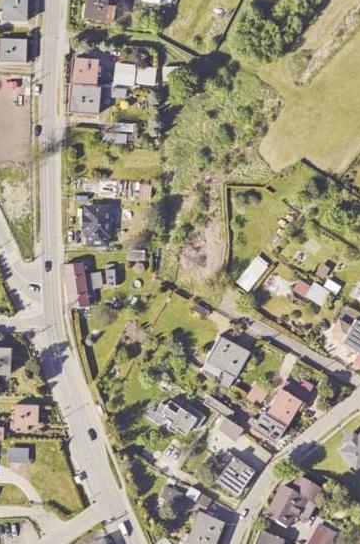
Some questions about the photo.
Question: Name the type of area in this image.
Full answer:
This image shows a residential area.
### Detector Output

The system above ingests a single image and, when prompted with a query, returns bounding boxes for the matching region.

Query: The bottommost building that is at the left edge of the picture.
[7,448,29,462]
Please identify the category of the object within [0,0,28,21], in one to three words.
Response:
house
